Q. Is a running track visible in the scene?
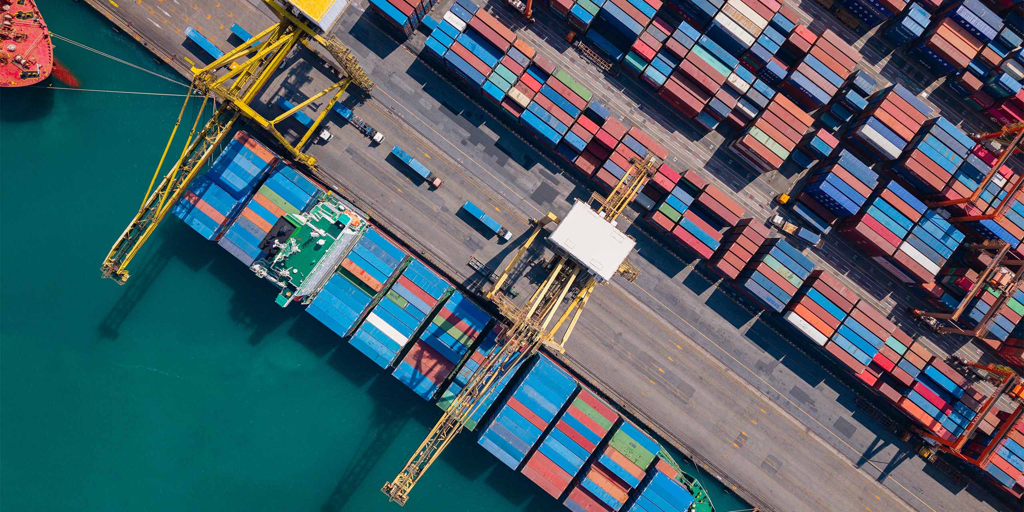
No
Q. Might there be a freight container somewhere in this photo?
Yes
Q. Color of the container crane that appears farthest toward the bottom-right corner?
red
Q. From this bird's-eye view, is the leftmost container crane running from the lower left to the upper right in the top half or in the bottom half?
top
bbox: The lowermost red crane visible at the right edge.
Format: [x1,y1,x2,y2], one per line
[897,351,1024,468]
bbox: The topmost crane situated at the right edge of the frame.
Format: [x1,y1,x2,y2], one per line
[927,119,1024,223]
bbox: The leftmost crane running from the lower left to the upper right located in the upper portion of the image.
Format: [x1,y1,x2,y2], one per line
[94,0,380,282]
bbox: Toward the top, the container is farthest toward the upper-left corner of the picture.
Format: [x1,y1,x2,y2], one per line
[185,26,227,60]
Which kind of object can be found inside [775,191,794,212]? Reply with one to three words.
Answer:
vehicle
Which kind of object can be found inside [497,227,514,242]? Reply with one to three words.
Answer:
vehicle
